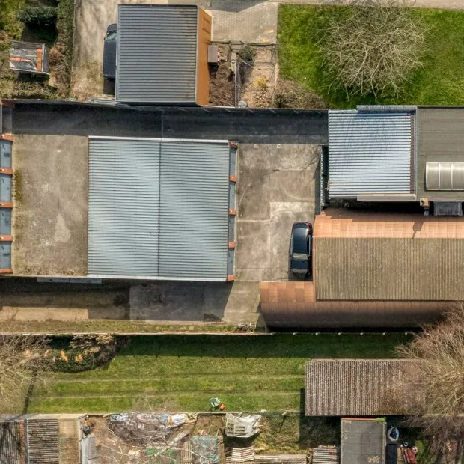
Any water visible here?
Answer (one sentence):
No, there is no water in the image.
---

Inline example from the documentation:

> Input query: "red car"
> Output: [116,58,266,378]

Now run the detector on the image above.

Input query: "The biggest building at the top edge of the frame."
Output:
[114,4,212,104]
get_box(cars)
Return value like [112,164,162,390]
[286,223,310,278]
[98,24,117,79]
